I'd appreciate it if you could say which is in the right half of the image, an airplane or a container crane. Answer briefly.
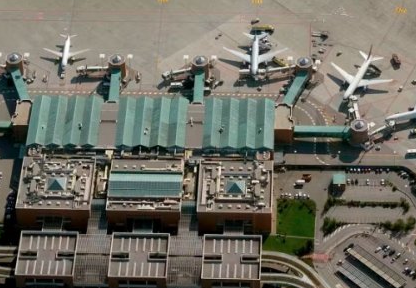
airplane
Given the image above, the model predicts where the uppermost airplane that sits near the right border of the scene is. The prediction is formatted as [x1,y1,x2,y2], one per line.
[333,46,395,98]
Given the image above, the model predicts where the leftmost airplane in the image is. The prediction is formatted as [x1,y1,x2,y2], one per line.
[42,31,89,78]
